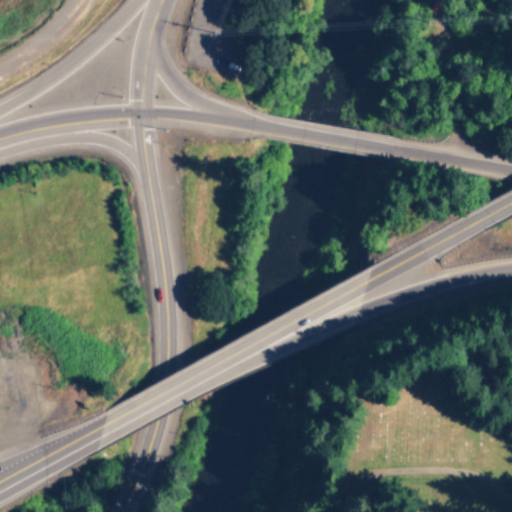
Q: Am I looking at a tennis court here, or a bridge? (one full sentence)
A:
I can see a bridge in this picture.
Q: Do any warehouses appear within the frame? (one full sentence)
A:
No, no warehouse is visible in the scene.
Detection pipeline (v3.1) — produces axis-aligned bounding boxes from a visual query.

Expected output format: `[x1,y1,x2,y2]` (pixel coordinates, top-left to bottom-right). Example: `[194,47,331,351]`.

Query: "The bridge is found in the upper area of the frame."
[256,115,416,162]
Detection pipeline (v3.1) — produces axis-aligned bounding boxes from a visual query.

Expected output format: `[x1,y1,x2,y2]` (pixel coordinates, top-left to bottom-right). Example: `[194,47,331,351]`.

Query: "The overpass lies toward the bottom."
[98,266,372,453]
